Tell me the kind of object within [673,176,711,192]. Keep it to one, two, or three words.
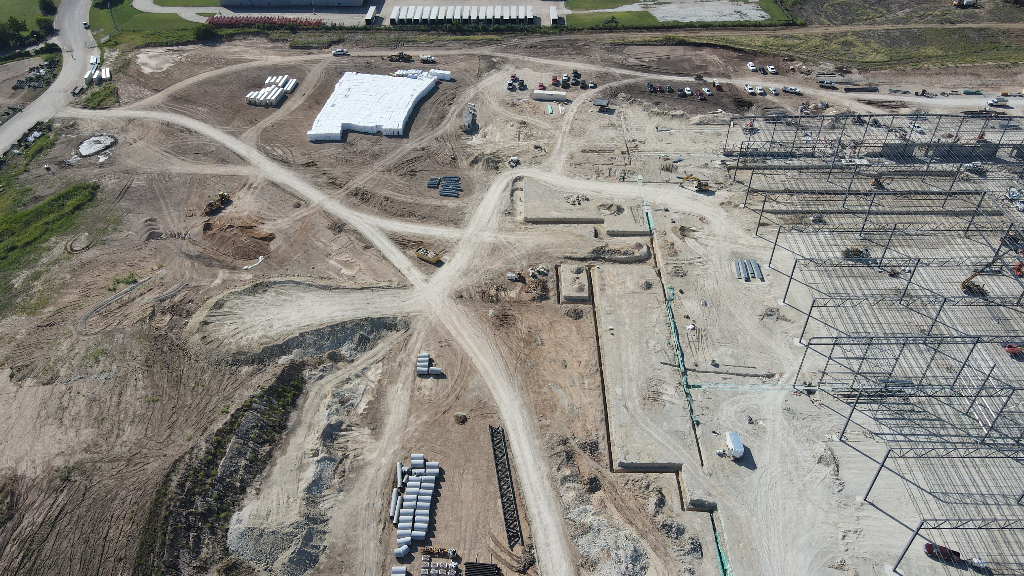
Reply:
work vehicle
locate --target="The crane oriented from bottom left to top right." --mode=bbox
[954,215,1024,302]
